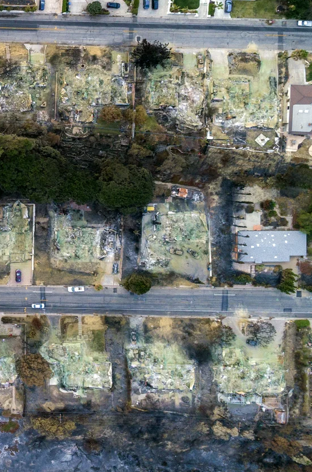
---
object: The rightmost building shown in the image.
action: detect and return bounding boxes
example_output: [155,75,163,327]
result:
[279,84,312,134]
